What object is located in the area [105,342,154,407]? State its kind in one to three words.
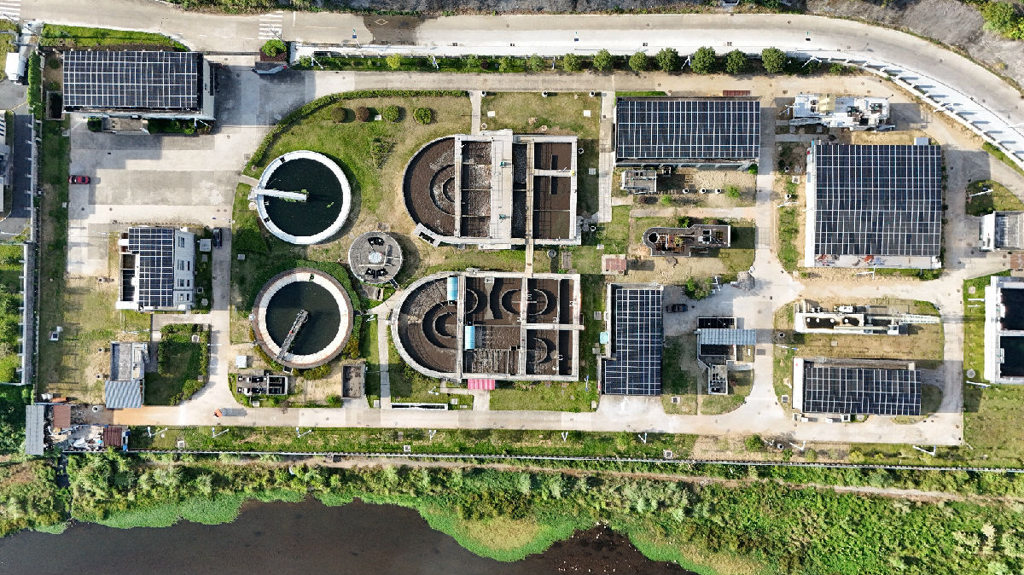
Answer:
shed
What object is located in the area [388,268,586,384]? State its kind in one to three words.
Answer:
water tank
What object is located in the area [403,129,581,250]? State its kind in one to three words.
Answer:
water tank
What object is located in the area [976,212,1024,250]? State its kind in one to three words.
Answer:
building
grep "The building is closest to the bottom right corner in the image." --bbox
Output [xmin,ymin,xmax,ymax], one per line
[785,356,921,415]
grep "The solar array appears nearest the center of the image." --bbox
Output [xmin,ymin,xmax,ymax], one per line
[605,289,662,395]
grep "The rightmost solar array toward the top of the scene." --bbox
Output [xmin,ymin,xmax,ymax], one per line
[815,145,942,256]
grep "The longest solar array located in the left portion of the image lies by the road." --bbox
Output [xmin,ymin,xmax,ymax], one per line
[64,51,197,108]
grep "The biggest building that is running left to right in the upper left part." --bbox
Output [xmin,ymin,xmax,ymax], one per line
[64,51,214,119]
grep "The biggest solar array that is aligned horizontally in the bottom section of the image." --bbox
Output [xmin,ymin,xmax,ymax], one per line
[805,368,921,415]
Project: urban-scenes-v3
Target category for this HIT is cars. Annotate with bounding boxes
[70,175,91,184]
[665,304,687,312]
[212,228,222,248]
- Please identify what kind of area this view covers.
industrial area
